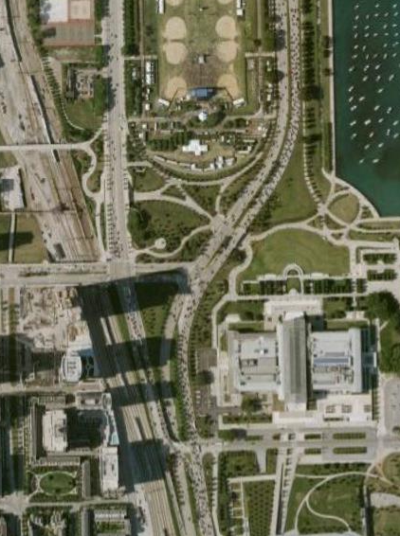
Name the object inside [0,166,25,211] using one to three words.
building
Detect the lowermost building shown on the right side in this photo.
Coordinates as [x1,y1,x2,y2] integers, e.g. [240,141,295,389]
[227,302,376,418]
